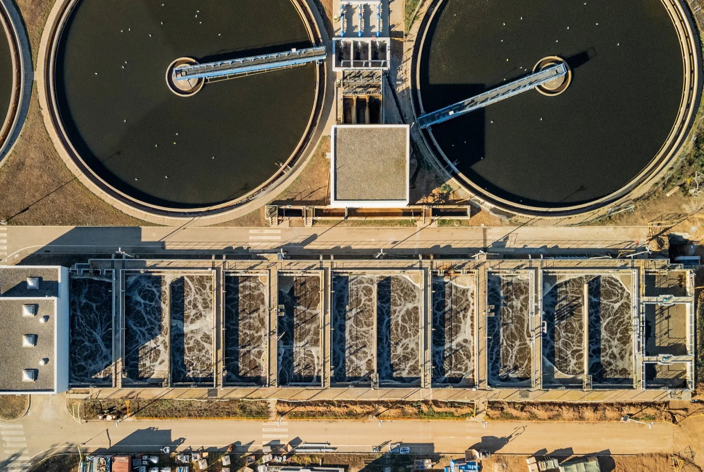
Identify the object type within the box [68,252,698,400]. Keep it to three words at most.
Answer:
storage tank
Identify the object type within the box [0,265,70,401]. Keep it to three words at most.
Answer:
building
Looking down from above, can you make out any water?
Yes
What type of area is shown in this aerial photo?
industrial area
